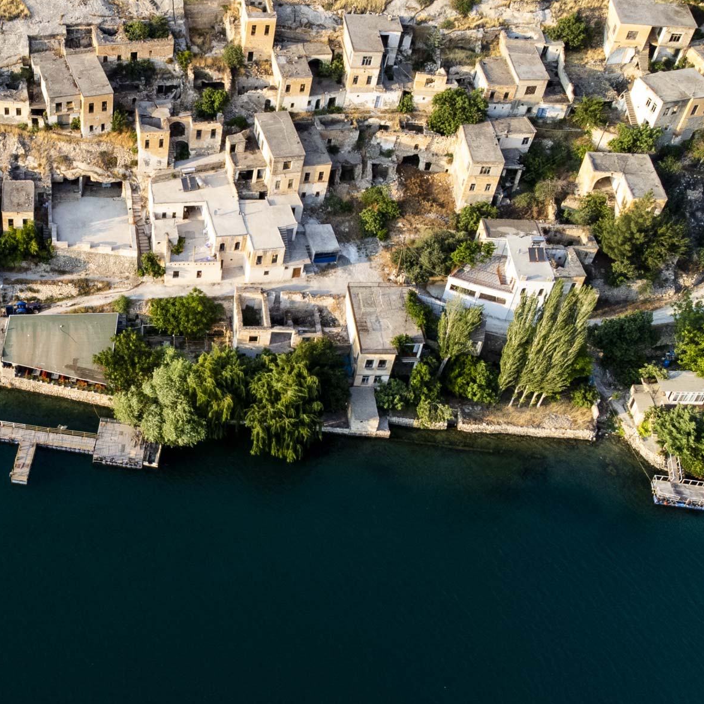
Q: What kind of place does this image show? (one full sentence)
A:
This looks like a residential area.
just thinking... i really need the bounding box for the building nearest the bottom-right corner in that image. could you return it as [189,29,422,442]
[626,370,704,423]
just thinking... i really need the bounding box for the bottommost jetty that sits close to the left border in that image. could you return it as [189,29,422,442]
[0,417,150,483]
